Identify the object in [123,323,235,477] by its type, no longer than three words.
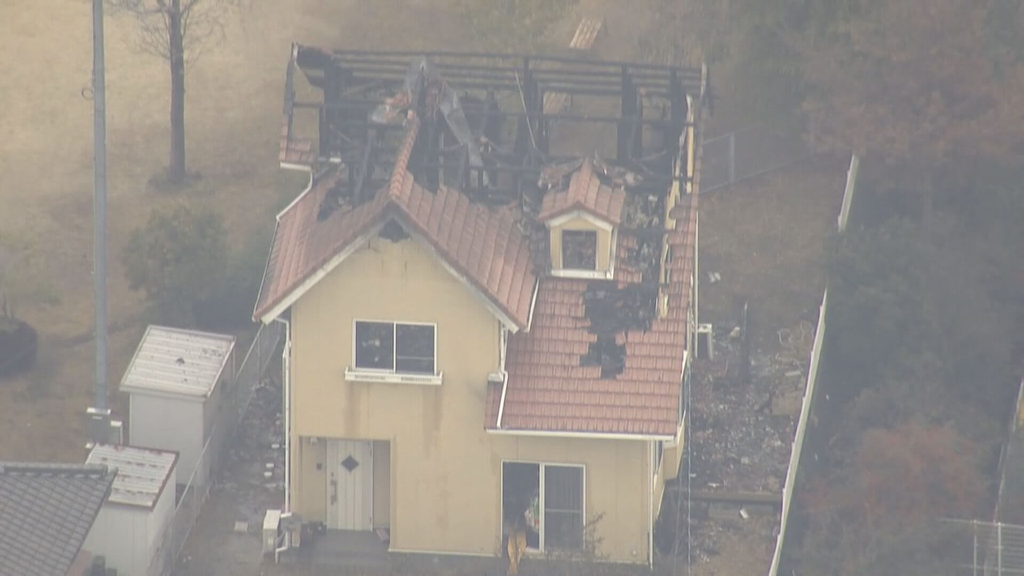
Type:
shed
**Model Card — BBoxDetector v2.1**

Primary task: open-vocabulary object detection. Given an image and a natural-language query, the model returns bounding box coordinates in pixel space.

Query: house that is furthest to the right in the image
[249,44,706,576]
